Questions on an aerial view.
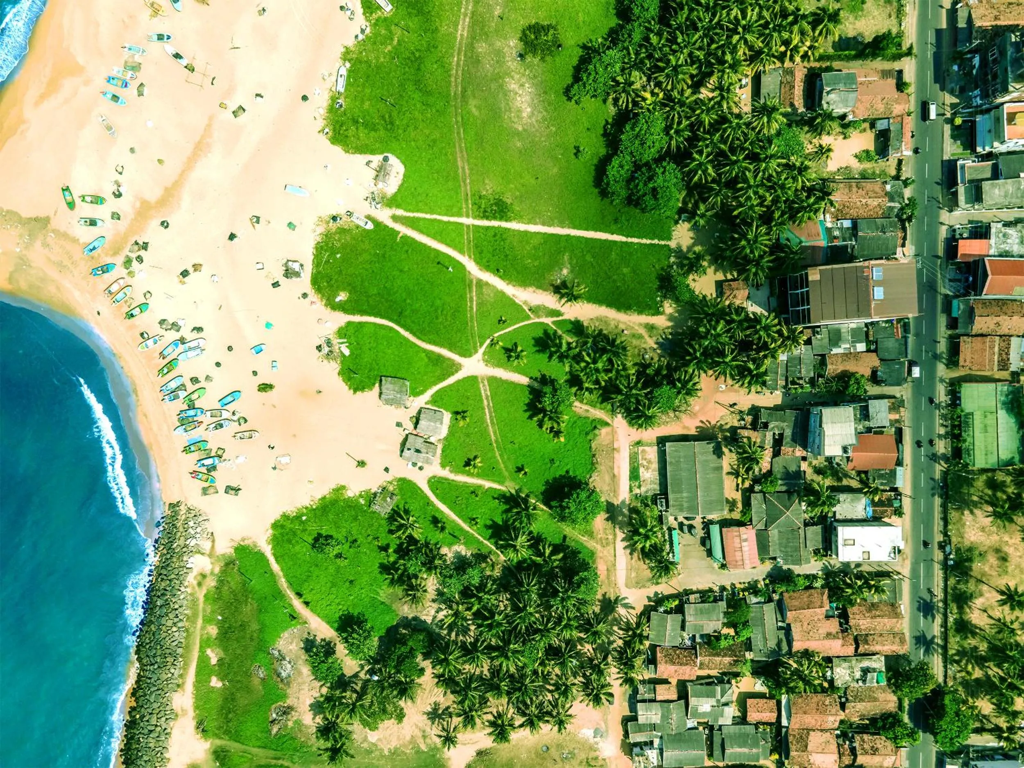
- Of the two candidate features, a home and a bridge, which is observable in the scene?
home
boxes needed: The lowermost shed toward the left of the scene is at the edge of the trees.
[372,489,396,514]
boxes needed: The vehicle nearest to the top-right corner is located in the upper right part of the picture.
[923,103,936,123]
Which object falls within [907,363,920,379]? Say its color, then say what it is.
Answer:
white vehicle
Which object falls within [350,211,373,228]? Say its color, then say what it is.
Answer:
white boat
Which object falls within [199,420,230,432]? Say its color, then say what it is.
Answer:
white boat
